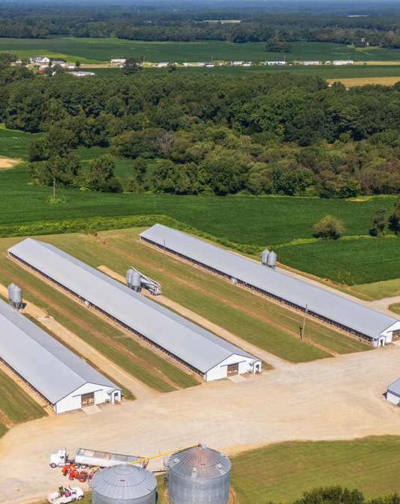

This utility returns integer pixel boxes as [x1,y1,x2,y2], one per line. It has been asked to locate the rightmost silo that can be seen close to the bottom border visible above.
[165,445,234,504]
